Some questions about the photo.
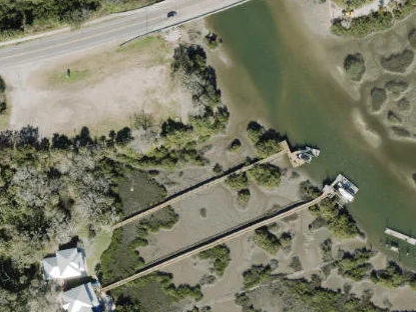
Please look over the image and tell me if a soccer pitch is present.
No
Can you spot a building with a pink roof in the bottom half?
No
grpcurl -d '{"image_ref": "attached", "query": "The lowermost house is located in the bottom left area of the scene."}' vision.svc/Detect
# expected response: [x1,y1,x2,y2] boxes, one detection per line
[62,283,99,312]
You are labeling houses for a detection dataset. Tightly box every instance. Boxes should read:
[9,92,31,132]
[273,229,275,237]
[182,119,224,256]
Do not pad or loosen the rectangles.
[62,283,99,312]
[41,250,84,281]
